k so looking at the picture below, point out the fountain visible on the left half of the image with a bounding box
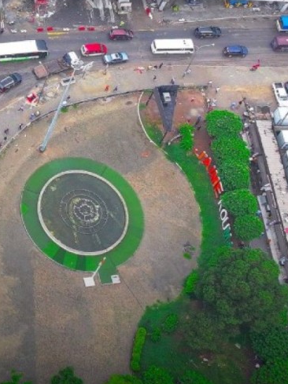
[21,159,146,274]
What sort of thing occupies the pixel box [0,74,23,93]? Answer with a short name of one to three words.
car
